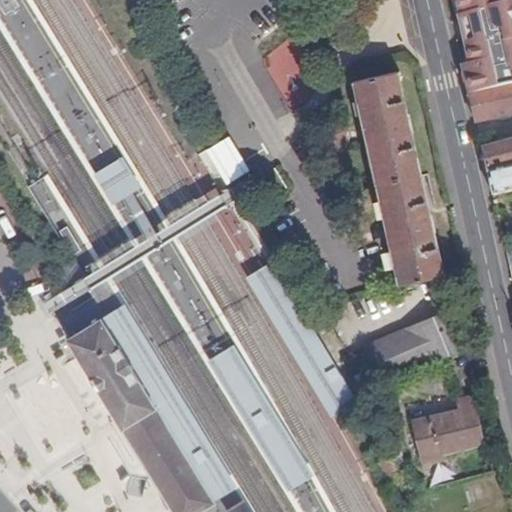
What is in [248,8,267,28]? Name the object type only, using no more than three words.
car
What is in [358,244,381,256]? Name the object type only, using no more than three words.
vehicle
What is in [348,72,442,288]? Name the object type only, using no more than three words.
building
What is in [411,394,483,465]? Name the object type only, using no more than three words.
house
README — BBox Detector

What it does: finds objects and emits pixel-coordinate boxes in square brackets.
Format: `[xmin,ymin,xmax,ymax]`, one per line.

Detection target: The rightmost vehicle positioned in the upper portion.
[457,120,470,145]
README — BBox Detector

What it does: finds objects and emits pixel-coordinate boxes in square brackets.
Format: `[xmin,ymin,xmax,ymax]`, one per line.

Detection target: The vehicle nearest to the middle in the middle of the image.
[274,217,296,234]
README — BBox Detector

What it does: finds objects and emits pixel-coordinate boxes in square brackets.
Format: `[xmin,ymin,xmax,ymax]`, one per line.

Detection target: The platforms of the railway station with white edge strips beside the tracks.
[0,0,334,512]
